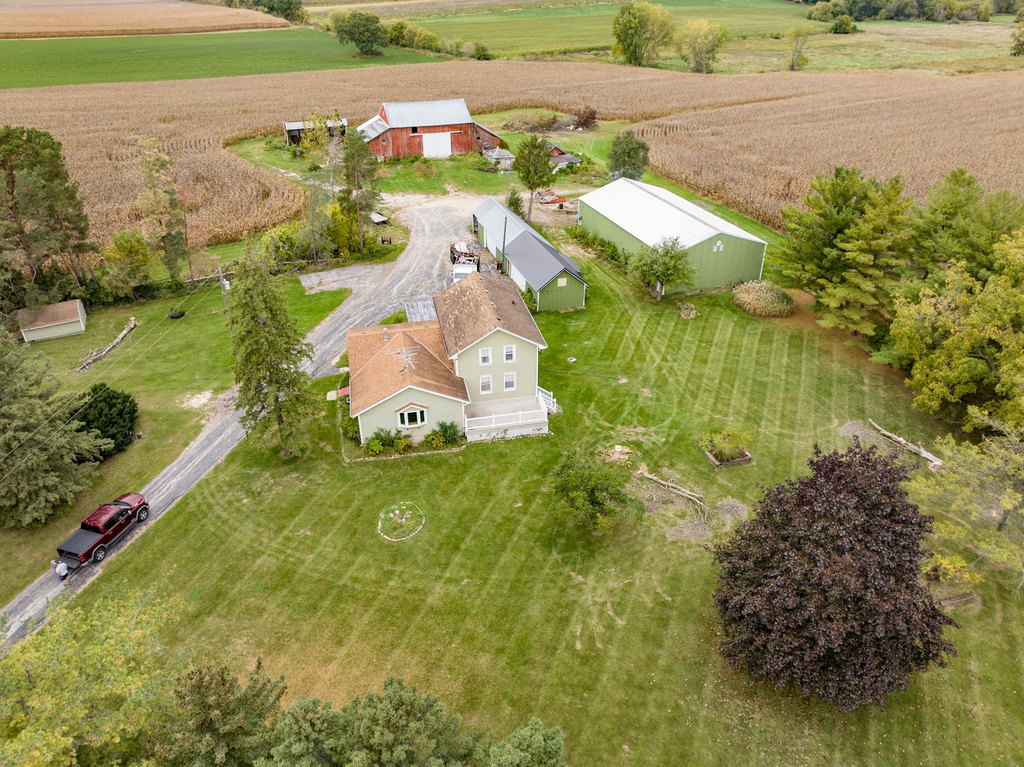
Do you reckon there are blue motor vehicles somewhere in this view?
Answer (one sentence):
No, there is no blue motor vehicle in the image.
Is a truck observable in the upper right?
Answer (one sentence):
No, there is no truck in the upper right.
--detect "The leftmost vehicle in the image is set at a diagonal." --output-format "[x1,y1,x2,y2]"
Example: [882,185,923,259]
[50,494,153,576]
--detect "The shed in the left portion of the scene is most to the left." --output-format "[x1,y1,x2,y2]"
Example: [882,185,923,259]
[15,302,86,342]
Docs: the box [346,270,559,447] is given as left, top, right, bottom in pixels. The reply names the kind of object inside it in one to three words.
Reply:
house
